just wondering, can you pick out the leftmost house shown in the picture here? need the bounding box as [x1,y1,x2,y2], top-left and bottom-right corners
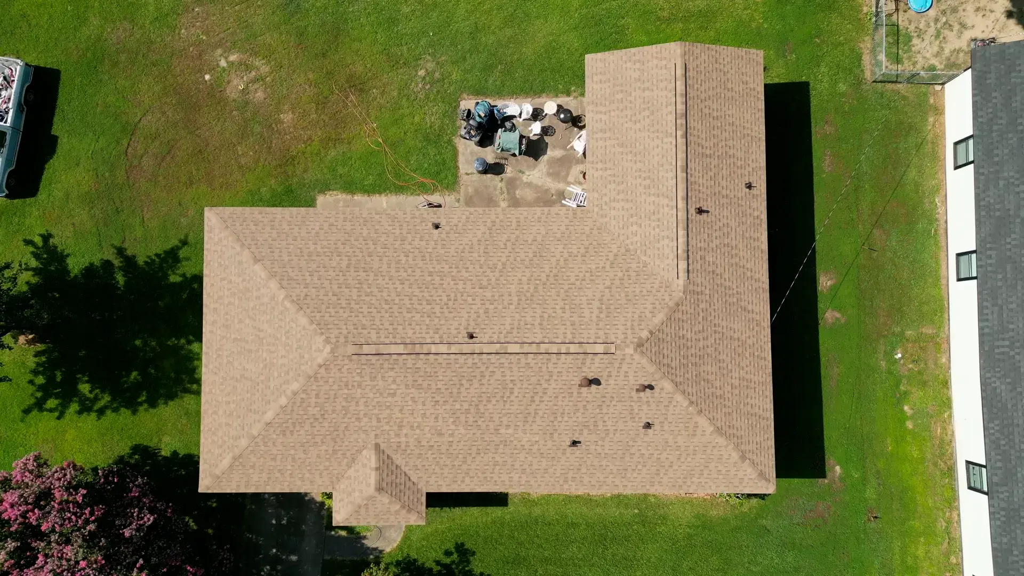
[197,40,777,527]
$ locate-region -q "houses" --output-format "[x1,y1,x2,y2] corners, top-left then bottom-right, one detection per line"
[943,42,1024,576]
[197,40,777,527]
